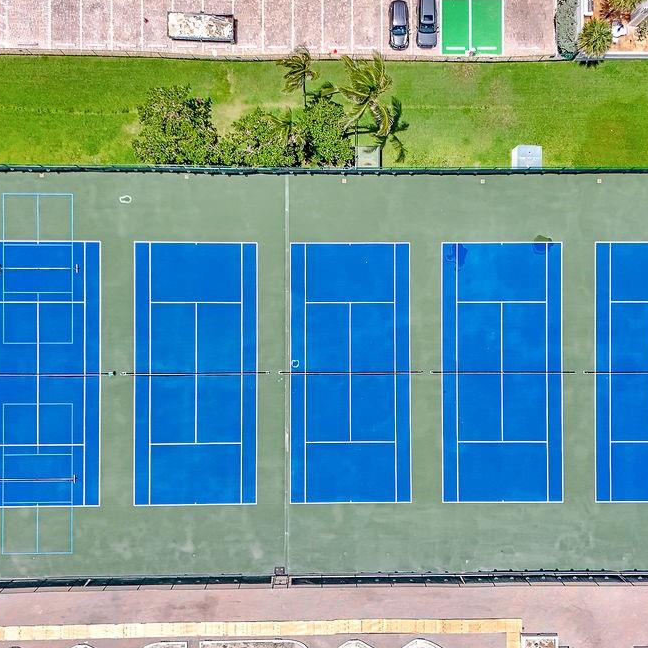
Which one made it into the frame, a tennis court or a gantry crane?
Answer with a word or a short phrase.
tennis court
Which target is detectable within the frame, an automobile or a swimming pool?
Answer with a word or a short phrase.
automobile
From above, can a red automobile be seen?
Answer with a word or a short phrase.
No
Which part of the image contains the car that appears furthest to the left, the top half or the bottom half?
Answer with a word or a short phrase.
top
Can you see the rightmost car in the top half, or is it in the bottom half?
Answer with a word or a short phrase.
top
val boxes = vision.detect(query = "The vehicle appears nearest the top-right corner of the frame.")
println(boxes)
[416,0,440,49]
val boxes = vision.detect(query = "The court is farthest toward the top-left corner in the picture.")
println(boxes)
[2,194,73,343]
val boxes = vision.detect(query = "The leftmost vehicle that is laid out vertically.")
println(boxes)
[388,0,411,51]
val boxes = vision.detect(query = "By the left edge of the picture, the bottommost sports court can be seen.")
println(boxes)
[2,404,73,553]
